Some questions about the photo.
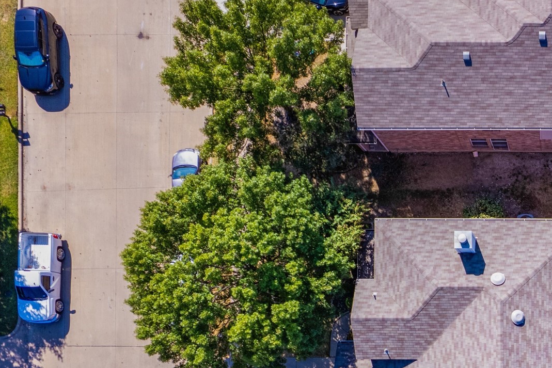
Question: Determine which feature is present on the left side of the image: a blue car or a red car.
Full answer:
The feature located on the left side of the image is a blue car.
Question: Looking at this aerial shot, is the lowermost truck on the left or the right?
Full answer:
The lowermost truck is on the left side of the image.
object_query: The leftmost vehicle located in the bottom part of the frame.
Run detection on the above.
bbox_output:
[12,231,65,323]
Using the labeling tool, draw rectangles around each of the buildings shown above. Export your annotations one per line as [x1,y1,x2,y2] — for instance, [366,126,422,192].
[342,0,552,153]
[334,217,552,368]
